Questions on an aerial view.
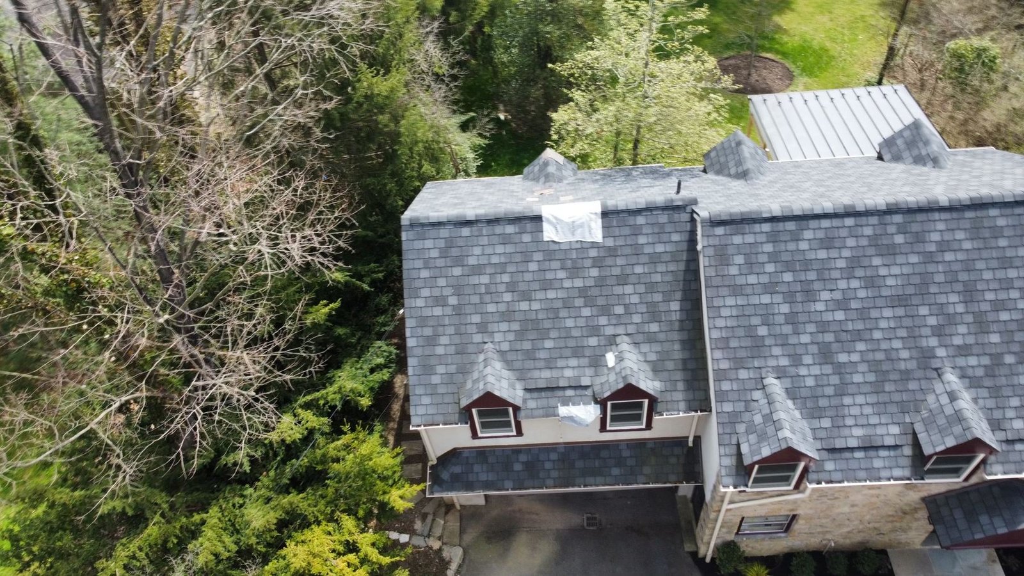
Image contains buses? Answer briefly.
No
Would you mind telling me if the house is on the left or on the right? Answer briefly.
right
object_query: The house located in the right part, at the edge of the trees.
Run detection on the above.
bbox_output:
[398,117,1024,560]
